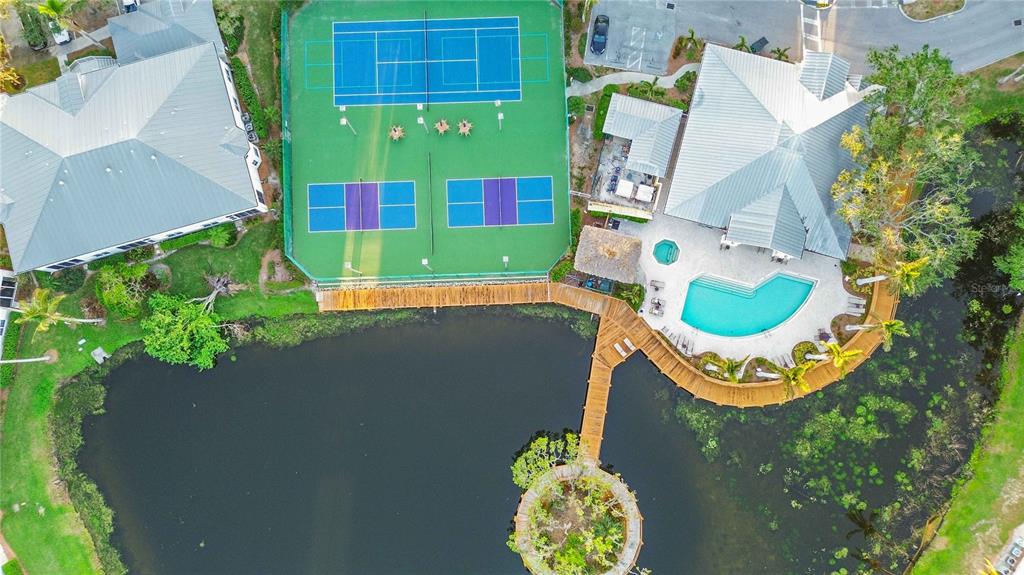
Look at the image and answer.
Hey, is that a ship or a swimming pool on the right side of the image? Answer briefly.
swimming pool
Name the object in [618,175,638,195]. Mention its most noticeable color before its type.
white umbrella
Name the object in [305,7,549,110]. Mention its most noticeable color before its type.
blue tennis court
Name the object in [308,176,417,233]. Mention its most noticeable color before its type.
blue sports court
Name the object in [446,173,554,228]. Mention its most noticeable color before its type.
blue sports court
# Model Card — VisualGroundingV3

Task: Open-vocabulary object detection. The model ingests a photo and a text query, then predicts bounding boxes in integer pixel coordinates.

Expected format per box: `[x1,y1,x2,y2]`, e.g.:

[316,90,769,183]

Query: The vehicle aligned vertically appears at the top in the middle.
[592,15,609,53]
